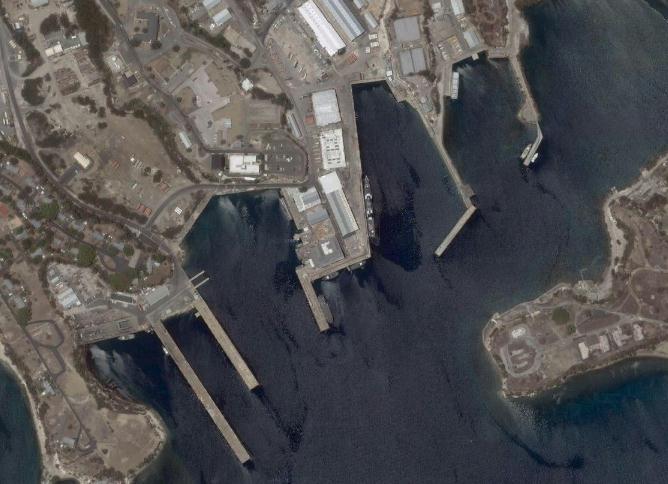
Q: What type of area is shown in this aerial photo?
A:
port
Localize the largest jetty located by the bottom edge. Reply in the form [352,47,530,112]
[153,321,250,464]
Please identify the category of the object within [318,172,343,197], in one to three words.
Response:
hangar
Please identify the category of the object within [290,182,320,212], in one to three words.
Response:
building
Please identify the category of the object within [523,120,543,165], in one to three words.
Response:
pier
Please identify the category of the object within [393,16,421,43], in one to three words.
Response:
building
